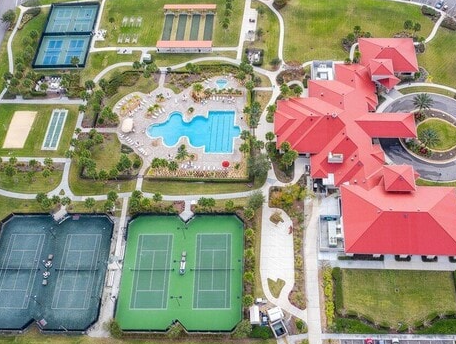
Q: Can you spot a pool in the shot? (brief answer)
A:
Yes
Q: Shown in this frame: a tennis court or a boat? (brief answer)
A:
tennis court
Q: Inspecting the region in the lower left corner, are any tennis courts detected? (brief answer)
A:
Yes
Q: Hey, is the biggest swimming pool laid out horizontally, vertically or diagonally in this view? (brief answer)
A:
horizontally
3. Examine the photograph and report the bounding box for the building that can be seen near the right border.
[276,37,456,261]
